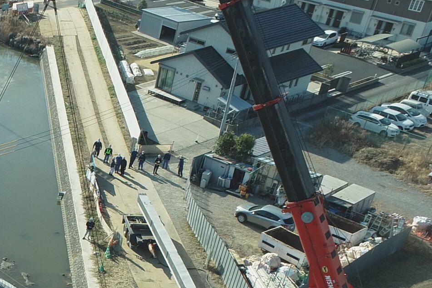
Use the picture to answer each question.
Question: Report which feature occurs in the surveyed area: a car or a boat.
car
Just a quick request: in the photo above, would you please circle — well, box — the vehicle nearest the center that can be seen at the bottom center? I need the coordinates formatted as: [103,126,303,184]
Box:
[228,197,279,223]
